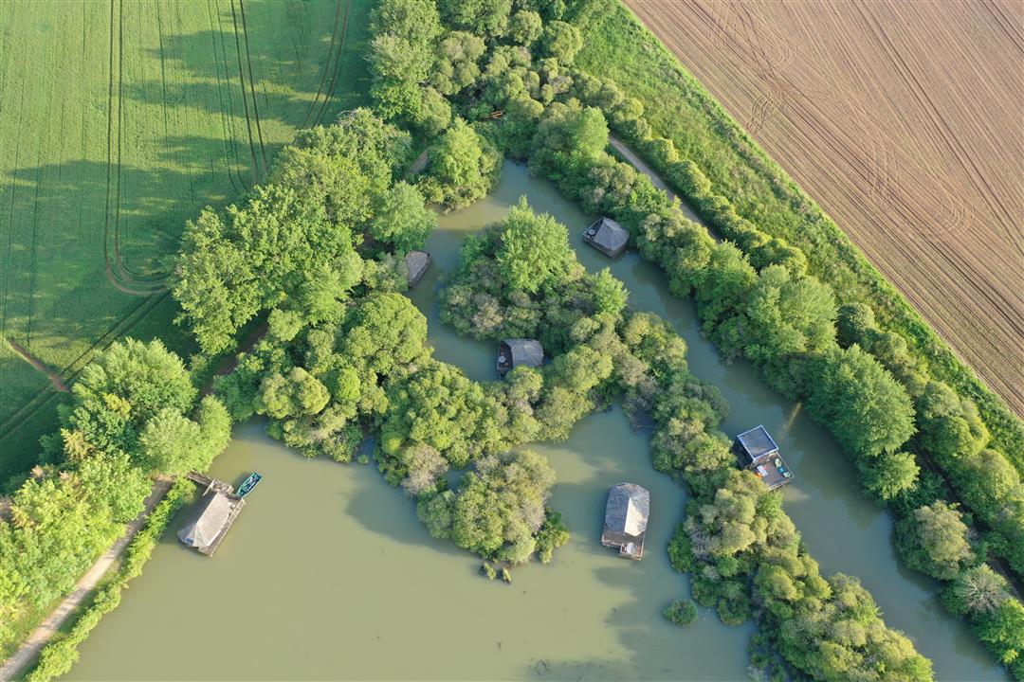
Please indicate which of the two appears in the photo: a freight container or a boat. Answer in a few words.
boat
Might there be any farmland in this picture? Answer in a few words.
Yes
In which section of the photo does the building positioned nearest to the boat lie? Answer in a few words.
bottom left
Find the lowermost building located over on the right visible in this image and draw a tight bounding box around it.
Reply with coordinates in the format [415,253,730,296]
[602,484,645,562]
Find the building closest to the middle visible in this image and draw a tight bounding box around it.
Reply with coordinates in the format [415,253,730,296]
[494,340,546,380]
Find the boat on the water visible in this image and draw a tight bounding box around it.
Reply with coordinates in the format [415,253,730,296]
[233,472,262,500]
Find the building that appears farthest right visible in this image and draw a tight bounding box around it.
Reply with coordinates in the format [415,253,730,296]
[733,425,797,495]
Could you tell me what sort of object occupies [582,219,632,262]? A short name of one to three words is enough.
building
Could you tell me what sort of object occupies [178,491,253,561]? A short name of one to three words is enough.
building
